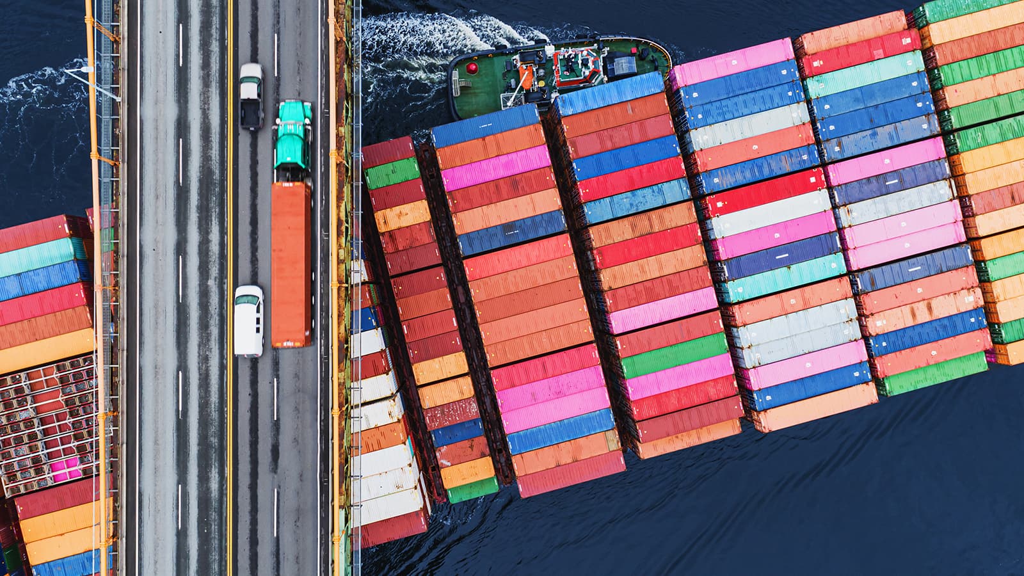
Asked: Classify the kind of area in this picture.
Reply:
port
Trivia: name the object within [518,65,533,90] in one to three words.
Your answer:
boat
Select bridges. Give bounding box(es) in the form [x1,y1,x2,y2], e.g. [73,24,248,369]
[85,0,364,576]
